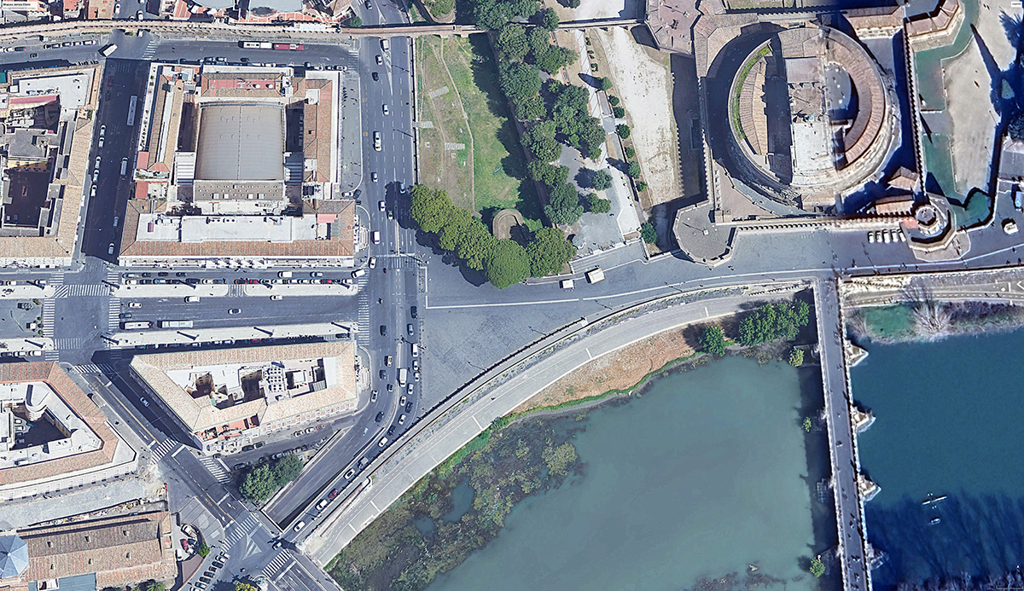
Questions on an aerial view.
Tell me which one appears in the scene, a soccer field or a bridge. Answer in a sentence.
This aerial view contains a bridge.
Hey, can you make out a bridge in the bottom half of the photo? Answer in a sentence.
Yes, a bridge is visible in the bottom half of the photo.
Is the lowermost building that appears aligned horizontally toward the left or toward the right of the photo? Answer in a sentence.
The lowermost building that appears aligned horizontally is on the left side of the image.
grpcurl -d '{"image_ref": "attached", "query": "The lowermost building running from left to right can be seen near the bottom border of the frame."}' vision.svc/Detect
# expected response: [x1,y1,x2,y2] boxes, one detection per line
[0,512,176,591]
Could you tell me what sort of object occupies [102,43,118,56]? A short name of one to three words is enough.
vehicle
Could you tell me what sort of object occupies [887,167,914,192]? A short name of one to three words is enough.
building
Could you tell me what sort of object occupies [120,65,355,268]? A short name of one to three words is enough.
building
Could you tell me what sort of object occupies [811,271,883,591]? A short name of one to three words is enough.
bridge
